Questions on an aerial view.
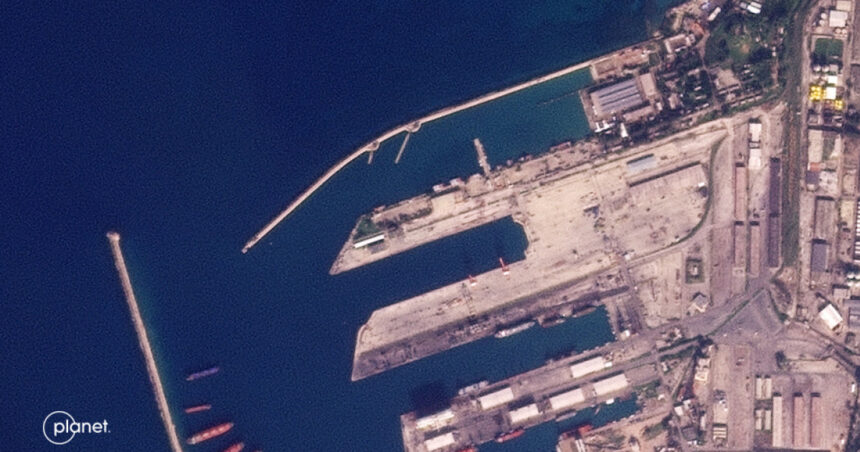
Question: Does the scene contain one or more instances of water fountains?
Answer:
No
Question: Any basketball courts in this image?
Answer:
No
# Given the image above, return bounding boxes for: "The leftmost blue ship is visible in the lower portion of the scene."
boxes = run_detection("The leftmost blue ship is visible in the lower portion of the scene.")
[186,368,219,381]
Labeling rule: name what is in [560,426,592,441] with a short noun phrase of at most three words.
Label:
ship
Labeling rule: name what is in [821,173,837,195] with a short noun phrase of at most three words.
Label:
building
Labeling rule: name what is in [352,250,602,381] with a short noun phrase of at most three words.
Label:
pier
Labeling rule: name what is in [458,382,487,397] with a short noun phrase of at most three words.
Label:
ship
